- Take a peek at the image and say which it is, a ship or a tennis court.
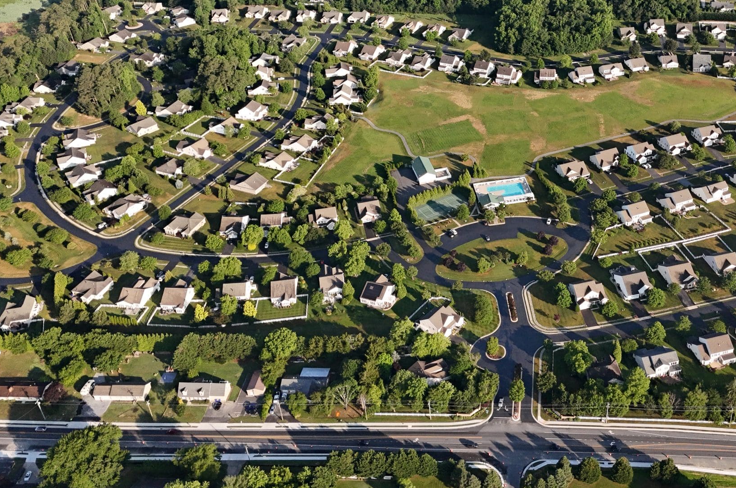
tennis court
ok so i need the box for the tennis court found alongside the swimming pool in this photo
[415,193,468,221]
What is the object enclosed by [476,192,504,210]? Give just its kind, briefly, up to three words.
building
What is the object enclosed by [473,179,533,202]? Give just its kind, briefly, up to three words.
swimming pool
